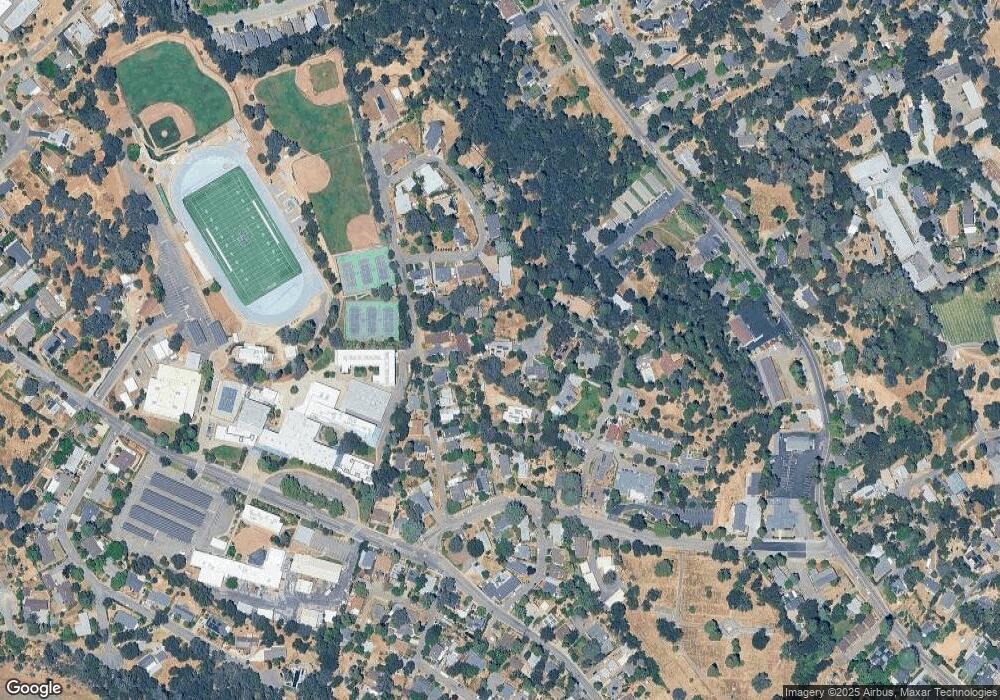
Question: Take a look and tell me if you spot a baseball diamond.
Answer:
Yes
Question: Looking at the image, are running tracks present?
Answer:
Yes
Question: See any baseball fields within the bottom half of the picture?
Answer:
No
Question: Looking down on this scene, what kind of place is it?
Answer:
residential area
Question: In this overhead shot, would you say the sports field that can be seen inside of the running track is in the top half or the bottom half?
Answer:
top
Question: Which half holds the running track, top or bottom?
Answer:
top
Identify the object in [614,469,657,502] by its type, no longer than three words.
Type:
building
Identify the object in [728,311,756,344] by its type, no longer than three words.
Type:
building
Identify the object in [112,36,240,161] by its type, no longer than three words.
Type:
baseball field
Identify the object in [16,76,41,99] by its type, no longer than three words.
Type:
house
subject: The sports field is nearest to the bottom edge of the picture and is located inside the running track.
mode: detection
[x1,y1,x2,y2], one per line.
[184,168,300,304]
